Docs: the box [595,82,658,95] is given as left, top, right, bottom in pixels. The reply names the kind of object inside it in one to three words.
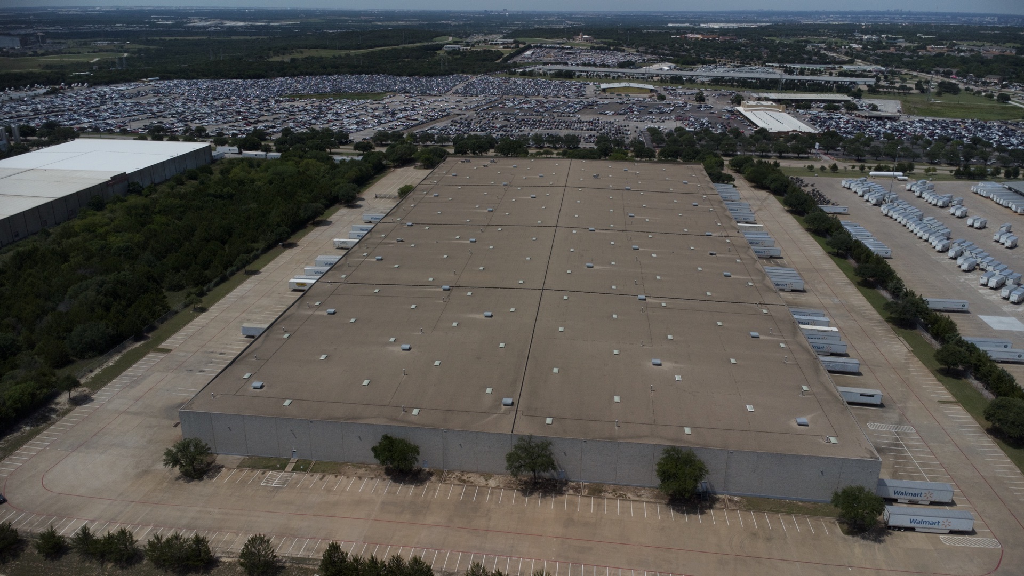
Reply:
shed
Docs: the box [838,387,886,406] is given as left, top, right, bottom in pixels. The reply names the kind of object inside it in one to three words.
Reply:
trailer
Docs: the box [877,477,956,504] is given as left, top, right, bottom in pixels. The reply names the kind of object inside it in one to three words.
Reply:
trailer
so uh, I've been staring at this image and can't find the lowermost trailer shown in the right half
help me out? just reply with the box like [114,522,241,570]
[885,505,976,533]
